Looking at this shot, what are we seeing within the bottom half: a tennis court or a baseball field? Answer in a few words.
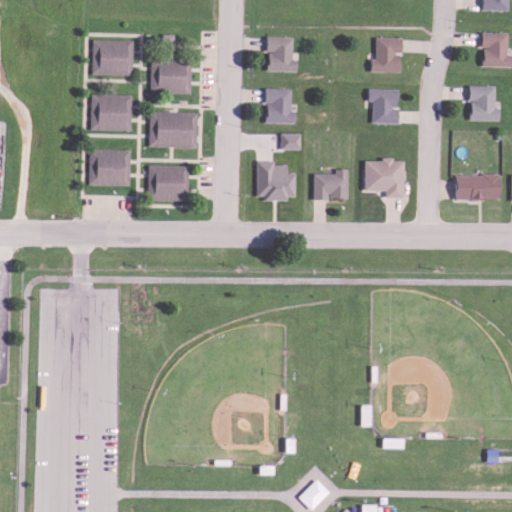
baseball field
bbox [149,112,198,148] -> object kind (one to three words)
building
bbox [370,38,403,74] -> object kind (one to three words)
house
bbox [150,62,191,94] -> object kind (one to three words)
building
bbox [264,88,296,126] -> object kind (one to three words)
house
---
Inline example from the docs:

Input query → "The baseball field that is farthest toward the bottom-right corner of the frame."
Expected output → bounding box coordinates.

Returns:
[370,288,512,440]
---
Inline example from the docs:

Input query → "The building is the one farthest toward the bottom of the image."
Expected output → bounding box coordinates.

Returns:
[299,480,328,510]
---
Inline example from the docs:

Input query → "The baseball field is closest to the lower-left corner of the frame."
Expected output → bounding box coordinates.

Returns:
[144,323,288,467]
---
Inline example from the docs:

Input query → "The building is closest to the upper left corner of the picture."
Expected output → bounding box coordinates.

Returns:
[92,40,134,76]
